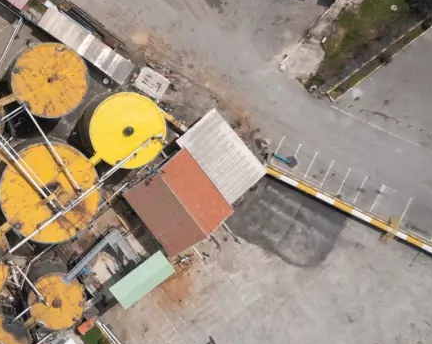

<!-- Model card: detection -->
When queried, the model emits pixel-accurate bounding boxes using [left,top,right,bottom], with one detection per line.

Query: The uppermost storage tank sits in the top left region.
[4,41,89,120]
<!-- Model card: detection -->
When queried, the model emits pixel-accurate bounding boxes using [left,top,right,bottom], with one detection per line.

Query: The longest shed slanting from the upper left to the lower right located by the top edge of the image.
[37,7,134,84]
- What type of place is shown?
industrial area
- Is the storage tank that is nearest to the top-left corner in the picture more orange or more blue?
orange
